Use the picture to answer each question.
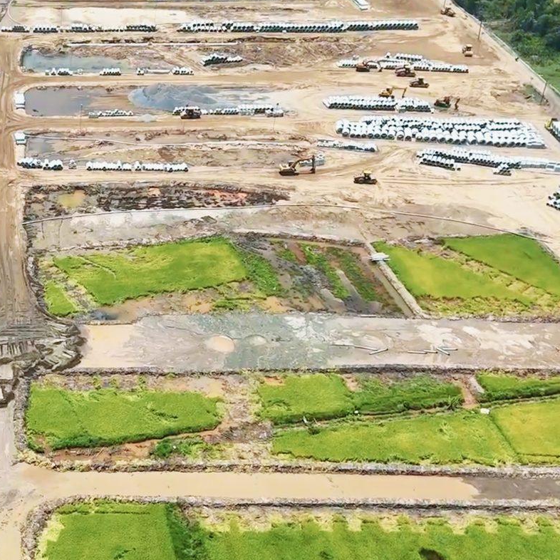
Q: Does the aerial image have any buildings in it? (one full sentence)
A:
No, the picture doesn't show any building.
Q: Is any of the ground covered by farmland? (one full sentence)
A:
Yes, some farmland is visible.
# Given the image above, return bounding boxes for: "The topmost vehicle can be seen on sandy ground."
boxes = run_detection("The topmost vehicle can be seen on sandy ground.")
[442,4,458,17]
